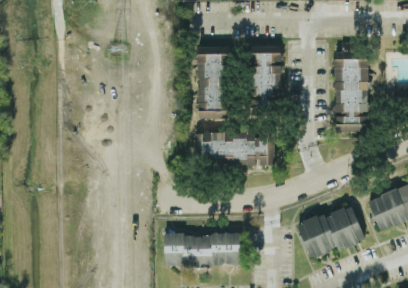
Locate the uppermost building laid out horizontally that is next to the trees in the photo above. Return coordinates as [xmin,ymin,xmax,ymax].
[196,132,276,168]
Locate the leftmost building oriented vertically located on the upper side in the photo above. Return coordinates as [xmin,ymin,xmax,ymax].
[196,46,226,121]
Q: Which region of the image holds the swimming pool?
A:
top right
